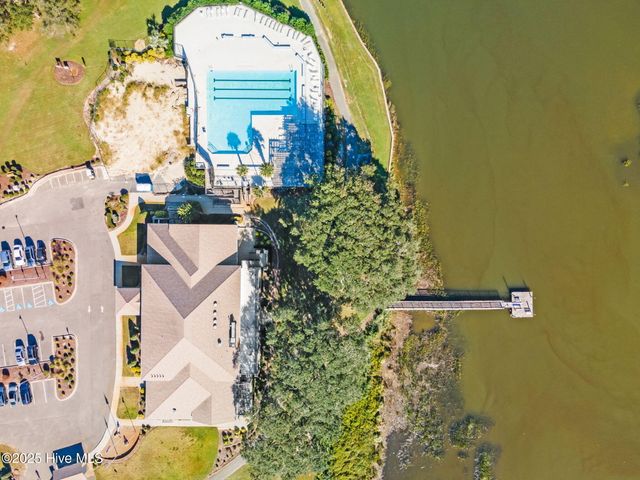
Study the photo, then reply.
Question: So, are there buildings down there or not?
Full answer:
Yes, looking at the shot, I can spot a building.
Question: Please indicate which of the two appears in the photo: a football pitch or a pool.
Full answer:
Of the two, only a pool appears.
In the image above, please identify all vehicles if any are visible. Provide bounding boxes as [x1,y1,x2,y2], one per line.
[85,168,96,179]
[16,346,28,366]
[8,384,21,405]
[14,246,26,266]
[0,249,14,270]
[27,342,40,367]
[24,246,38,266]
[37,246,49,267]
[0,384,9,406]
[20,382,34,403]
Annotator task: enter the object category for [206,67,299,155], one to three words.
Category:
swimming pool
